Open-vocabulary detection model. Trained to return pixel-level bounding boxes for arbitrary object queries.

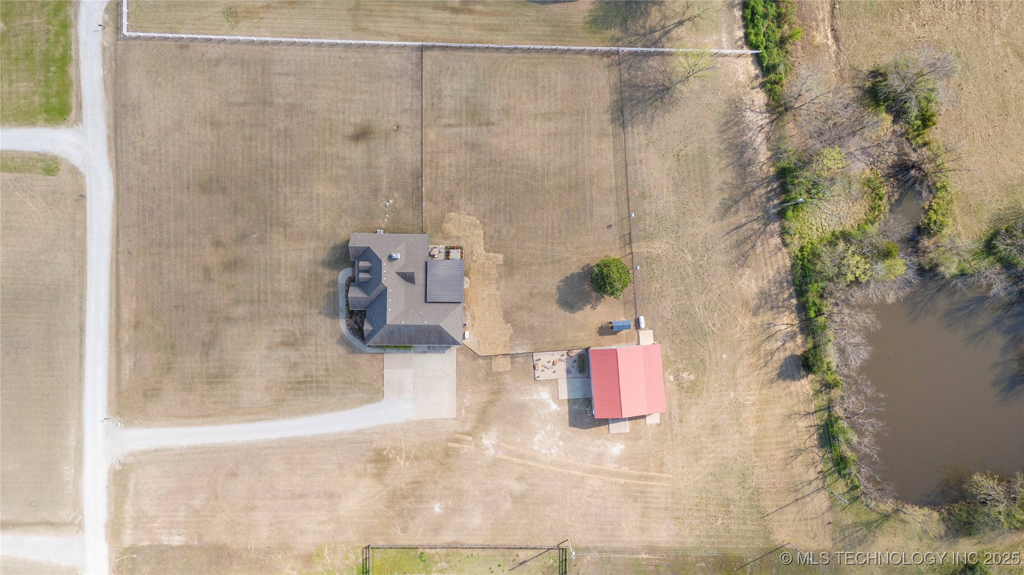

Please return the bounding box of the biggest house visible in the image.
[348,233,465,346]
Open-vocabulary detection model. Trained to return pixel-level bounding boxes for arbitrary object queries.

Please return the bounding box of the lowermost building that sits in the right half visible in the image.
[589,344,665,419]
